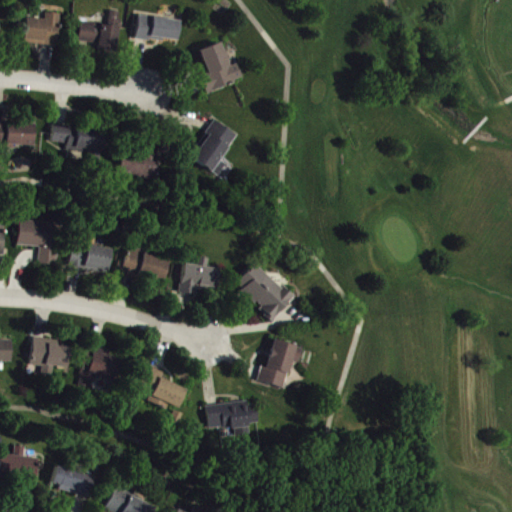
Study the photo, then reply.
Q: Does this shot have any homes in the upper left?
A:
Yes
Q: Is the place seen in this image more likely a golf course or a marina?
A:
golf course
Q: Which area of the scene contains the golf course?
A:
right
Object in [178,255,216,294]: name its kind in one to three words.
house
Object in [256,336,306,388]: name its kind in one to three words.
house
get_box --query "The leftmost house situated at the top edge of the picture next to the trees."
[24,12,61,44]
